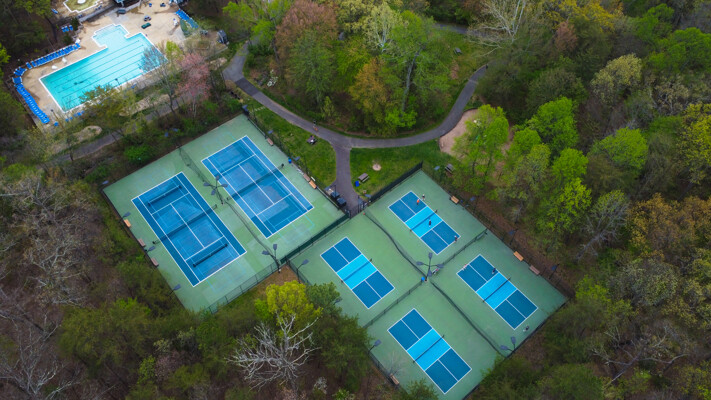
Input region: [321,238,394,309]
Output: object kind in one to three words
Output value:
sports court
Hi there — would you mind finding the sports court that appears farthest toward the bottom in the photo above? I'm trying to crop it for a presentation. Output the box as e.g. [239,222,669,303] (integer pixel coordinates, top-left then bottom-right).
[387,308,471,394]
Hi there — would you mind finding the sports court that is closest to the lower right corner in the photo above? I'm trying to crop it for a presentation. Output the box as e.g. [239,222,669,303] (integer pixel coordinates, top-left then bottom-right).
[458,254,537,329]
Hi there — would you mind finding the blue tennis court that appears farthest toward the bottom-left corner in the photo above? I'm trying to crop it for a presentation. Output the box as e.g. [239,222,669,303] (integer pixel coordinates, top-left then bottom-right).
[131,171,246,290]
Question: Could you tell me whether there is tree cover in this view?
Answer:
Yes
